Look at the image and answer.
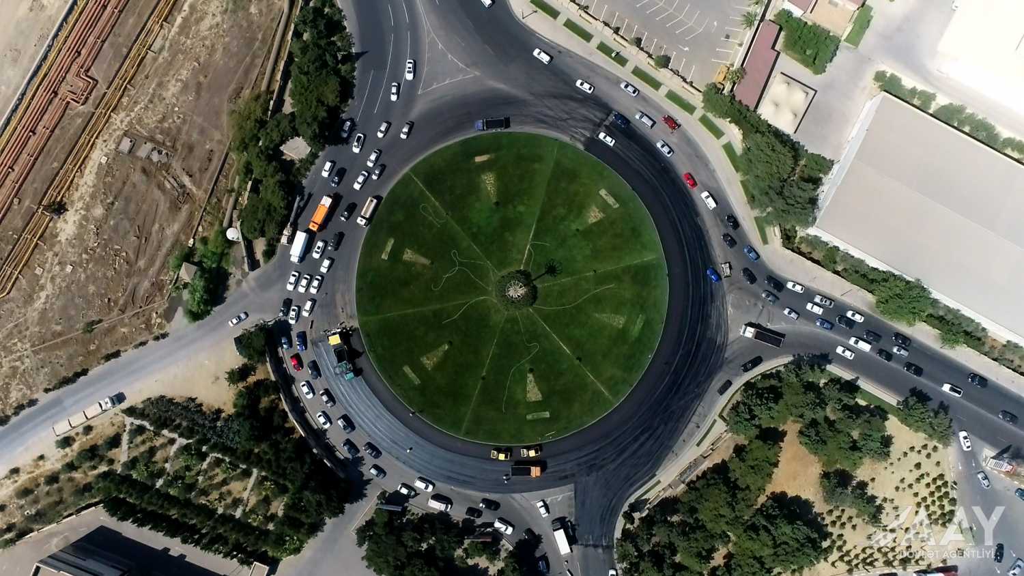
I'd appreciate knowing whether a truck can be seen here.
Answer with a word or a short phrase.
Yes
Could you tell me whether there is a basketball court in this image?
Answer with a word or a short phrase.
No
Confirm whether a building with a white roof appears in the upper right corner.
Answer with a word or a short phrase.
Yes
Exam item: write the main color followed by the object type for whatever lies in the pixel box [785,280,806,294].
white car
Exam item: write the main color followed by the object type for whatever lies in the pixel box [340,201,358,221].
black car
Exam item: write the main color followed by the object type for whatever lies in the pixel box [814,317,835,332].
blue vehicle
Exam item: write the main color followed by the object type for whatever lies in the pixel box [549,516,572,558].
white truck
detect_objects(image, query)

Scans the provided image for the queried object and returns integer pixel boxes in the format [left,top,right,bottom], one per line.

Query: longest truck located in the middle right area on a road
[737,323,785,348]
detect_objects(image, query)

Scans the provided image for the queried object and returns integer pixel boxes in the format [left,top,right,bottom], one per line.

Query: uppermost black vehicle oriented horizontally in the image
[474,116,510,132]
